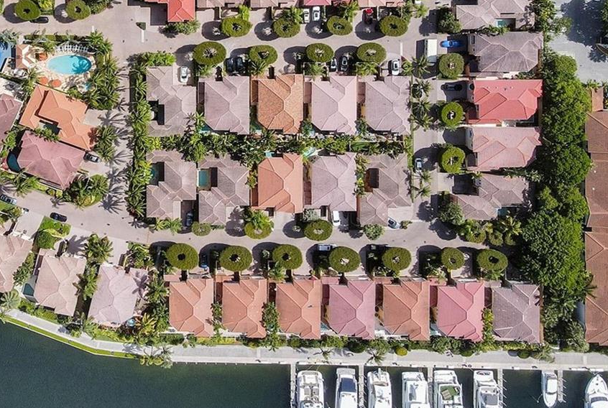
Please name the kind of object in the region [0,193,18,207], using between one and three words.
vehicle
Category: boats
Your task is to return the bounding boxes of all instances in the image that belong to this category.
[335,366,359,408]
[537,370,559,408]
[366,366,391,408]
[298,364,324,408]
[433,368,466,408]
[581,371,608,408]
[402,366,433,408]
[472,369,499,408]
